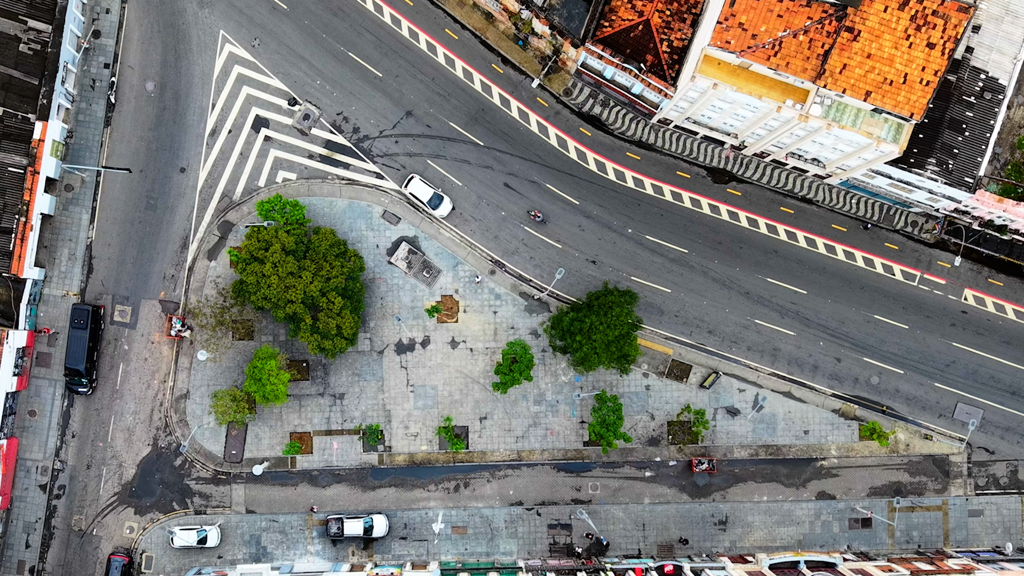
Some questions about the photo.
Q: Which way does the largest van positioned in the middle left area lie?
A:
vertically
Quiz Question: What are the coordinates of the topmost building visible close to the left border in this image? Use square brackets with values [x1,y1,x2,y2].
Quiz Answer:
[0,0,86,128]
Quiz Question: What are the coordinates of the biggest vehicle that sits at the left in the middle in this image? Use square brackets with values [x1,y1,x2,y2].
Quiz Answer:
[60,303,105,395]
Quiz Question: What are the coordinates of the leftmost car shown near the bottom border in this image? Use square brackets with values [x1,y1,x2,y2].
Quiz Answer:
[100,550,128,576]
